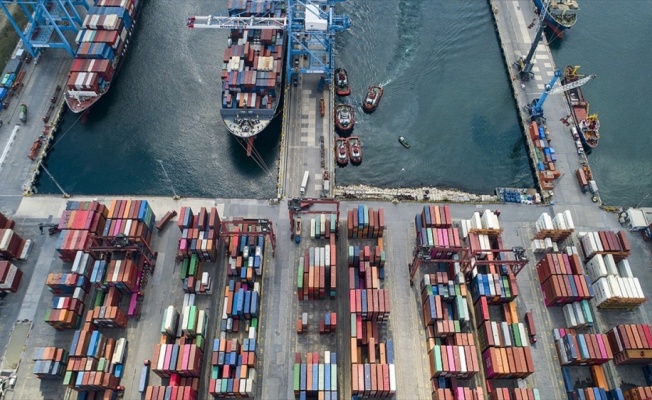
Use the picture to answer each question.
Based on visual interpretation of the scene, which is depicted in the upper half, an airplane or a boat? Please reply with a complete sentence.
The one visible in the upper half is a boat.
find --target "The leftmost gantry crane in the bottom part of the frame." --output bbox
[79,236,153,276]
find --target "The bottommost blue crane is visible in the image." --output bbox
[520,75,590,118]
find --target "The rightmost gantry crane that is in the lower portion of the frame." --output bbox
[459,248,528,287]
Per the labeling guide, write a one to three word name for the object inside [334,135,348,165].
boat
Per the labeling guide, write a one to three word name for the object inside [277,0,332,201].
pier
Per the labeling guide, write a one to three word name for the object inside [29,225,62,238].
vehicle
